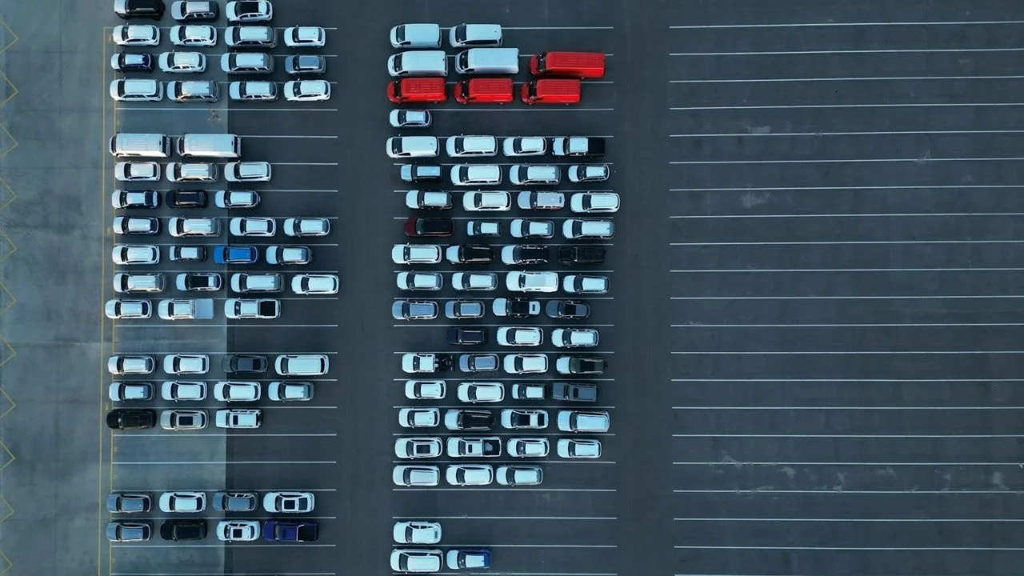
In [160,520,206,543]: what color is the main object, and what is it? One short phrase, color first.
black car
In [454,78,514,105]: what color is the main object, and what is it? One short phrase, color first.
red vehicle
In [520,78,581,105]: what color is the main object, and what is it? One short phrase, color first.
red vehicle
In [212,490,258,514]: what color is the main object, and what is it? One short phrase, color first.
blue car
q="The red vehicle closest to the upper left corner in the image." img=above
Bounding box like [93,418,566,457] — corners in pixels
[387,78,447,104]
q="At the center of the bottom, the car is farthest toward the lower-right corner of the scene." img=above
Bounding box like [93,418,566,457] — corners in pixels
[557,438,602,461]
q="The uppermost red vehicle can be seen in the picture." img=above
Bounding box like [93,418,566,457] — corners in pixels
[529,52,605,79]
